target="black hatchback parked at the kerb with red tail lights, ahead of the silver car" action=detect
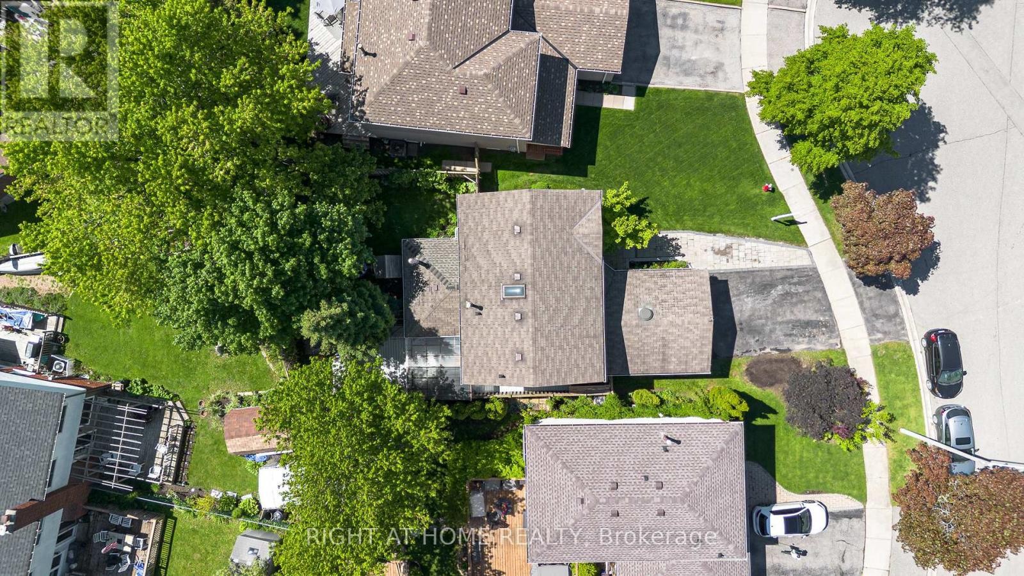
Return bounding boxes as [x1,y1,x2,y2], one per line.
[920,329,966,399]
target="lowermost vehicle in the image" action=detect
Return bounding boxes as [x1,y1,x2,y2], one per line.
[757,501,831,539]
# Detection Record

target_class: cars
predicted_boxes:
[931,405,976,477]
[920,329,966,399]
[757,501,831,539]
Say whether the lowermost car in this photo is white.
Yes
